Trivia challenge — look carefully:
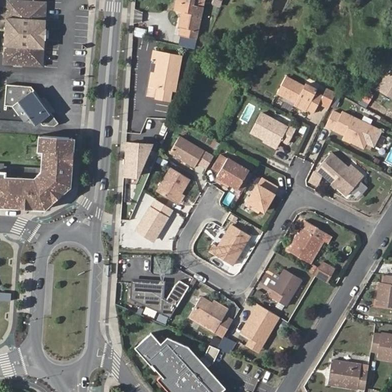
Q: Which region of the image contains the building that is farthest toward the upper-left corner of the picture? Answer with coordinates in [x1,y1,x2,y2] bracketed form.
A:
[2,0,48,67]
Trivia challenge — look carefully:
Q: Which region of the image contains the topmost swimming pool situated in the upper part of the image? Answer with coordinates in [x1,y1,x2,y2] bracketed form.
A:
[238,100,257,124]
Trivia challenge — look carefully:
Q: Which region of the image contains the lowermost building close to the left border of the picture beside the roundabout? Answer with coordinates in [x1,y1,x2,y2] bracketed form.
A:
[0,136,76,210]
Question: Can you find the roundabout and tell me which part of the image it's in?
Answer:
bottom left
